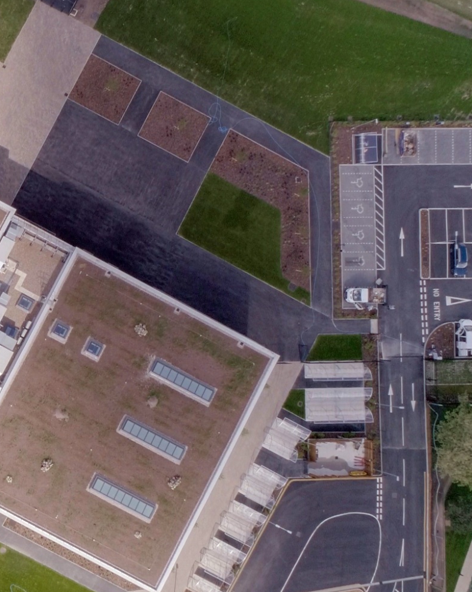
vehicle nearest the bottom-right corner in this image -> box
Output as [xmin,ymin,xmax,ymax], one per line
[454,314,472,354]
